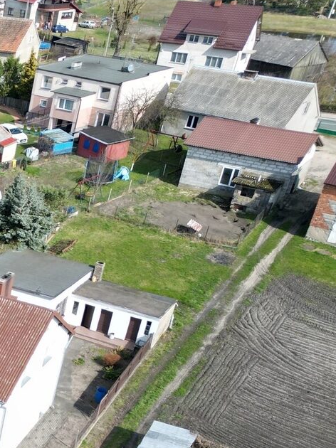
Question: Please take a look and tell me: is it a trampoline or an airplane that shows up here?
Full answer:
Of the two, only a trampoline appears.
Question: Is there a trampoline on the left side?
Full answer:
Yes, a trampoline can be seen on the left side.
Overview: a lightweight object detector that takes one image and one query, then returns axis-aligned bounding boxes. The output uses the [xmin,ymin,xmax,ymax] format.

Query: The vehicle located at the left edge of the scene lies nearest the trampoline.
[4,125,30,141]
